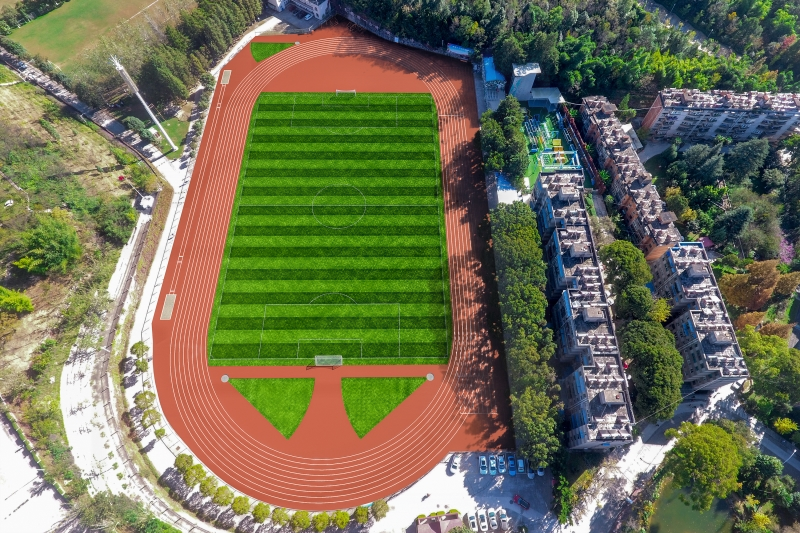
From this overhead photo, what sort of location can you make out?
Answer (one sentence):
The area seen from above is a sports ground.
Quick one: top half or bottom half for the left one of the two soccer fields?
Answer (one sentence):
The top half of the photo is where the left one of the two soccer fields is.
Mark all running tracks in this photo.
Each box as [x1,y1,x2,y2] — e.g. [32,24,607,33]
[152,14,516,510]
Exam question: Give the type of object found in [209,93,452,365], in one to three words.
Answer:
soccer field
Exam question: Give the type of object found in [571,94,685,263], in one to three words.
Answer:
building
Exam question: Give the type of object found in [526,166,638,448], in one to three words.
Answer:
building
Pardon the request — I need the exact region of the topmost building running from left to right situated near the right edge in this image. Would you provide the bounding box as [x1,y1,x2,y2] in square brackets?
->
[637,90,800,148]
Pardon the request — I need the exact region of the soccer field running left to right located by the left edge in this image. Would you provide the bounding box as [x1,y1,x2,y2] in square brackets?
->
[15,0,208,84]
